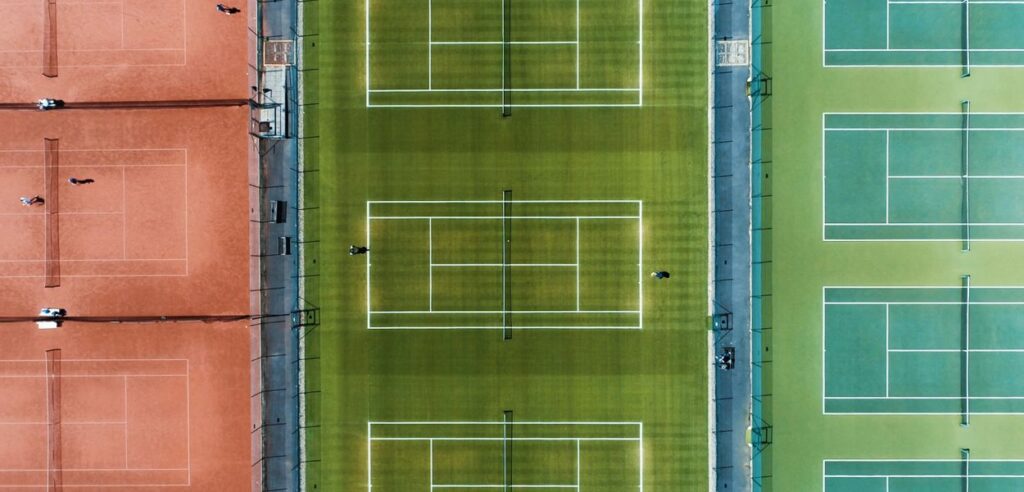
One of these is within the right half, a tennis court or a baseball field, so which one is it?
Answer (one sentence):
It is a tennis court that can be seen within the right half.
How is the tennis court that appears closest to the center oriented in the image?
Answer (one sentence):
The tennis court that appears closest to the center is laid out horizontally.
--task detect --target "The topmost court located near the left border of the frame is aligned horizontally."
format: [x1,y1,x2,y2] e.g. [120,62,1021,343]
[0,0,187,66]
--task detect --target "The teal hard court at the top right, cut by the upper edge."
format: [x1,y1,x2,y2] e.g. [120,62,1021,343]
[823,0,1024,66]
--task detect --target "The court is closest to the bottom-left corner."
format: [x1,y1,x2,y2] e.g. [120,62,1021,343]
[0,359,190,487]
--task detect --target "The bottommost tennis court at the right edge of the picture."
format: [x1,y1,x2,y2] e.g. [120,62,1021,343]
[823,460,1024,492]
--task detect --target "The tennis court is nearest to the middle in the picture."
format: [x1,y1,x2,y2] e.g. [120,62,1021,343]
[367,201,643,329]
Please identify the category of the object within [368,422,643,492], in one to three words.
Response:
tennis court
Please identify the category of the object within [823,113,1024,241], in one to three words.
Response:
tennis court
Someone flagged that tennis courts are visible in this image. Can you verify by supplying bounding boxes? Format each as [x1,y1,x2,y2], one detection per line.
[823,287,1024,414]
[823,460,1024,492]
[0,0,187,66]
[0,359,190,487]
[367,201,643,329]
[0,148,189,277]
[368,422,643,492]
[823,0,1024,66]
[366,0,642,107]
[823,113,1024,241]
